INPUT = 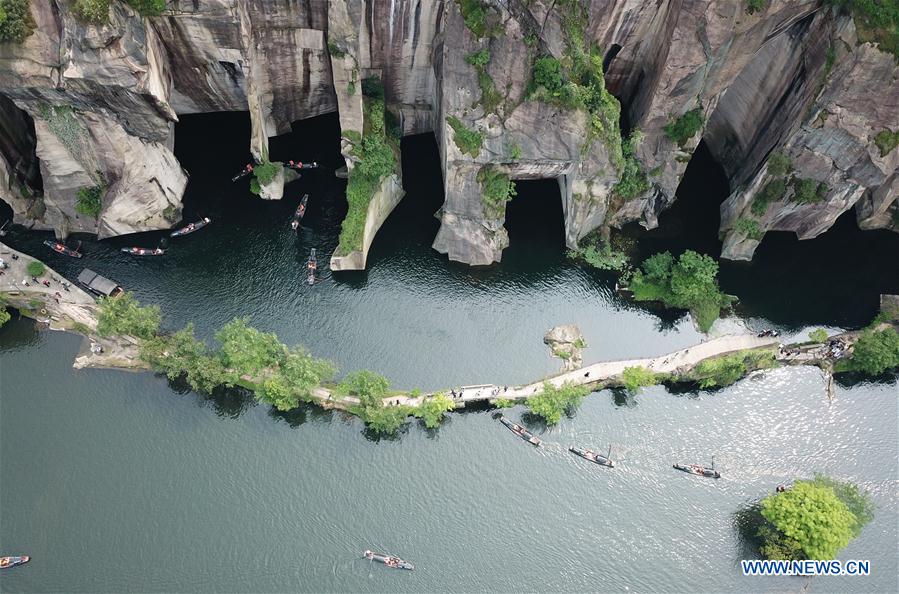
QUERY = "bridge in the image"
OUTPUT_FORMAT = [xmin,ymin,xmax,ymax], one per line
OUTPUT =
[454,384,504,408]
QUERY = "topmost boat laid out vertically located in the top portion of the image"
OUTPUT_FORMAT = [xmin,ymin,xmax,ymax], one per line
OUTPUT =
[292,193,306,233]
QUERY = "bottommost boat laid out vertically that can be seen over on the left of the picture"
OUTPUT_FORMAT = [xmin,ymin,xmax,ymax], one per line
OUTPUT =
[308,247,322,285]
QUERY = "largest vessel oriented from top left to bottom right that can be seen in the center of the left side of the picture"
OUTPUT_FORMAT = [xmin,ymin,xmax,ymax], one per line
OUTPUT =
[69,259,126,302]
